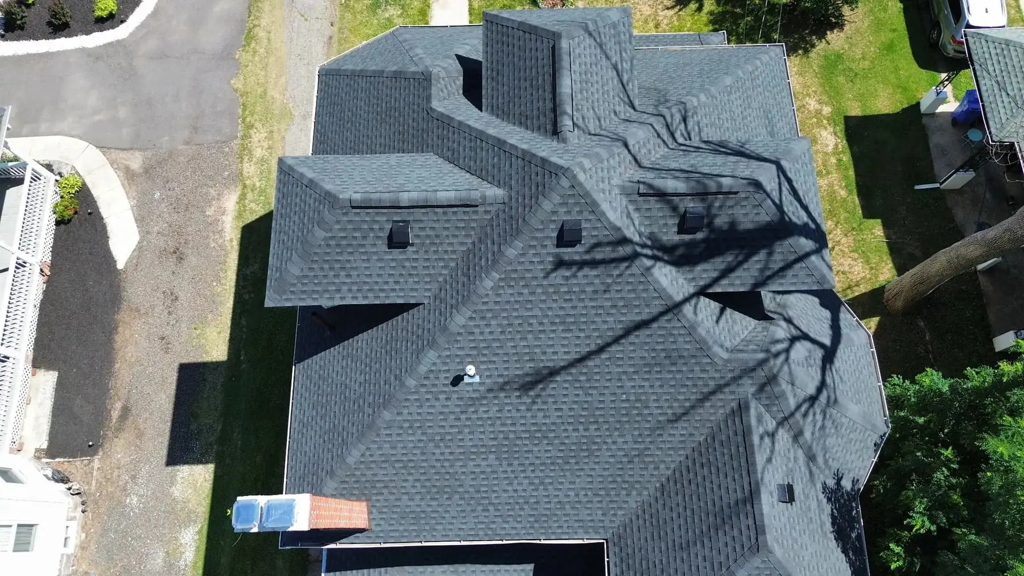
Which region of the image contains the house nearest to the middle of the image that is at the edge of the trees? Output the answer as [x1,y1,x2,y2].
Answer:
[220,7,888,576]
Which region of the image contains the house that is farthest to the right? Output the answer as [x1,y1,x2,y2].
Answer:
[960,27,1024,181]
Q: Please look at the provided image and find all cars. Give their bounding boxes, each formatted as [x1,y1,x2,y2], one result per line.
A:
[924,0,1008,59]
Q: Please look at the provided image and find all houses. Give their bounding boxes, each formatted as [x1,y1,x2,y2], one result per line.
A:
[960,27,1024,181]
[220,7,888,576]
[0,109,78,576]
